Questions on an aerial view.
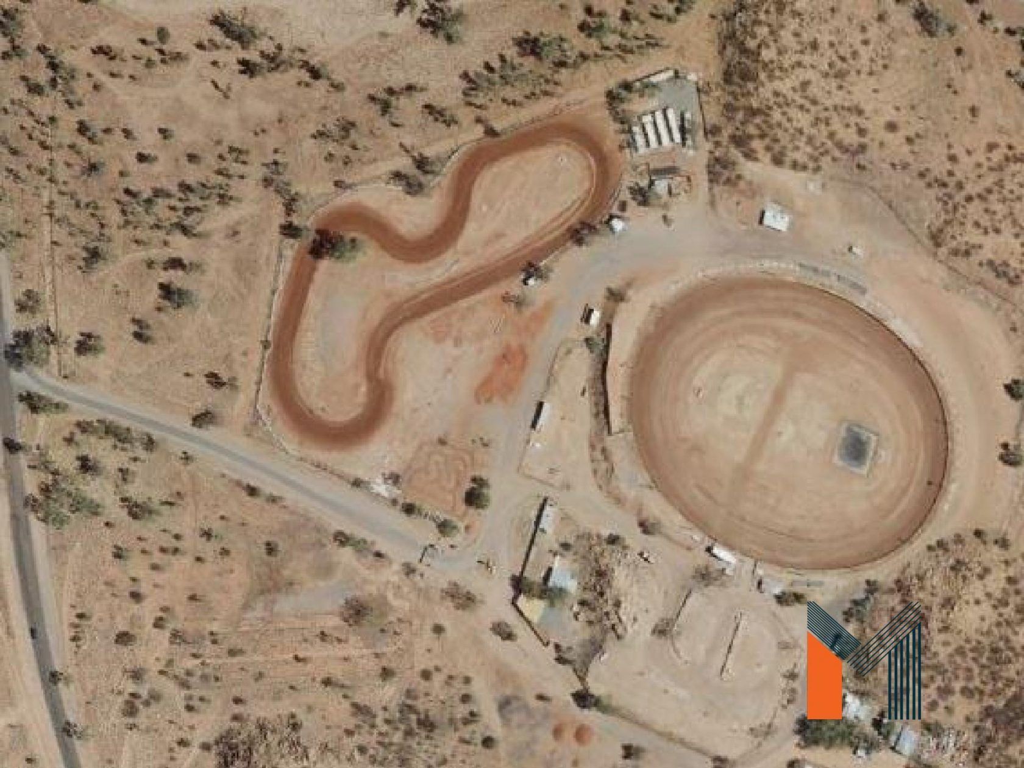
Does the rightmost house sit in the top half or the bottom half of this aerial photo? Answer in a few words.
bottom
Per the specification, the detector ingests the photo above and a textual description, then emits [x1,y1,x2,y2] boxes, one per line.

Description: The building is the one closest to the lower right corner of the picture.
[897,728,917,753]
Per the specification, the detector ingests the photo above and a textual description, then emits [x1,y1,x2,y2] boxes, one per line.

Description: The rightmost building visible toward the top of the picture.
[763,204,790,230]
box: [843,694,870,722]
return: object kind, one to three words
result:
shed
